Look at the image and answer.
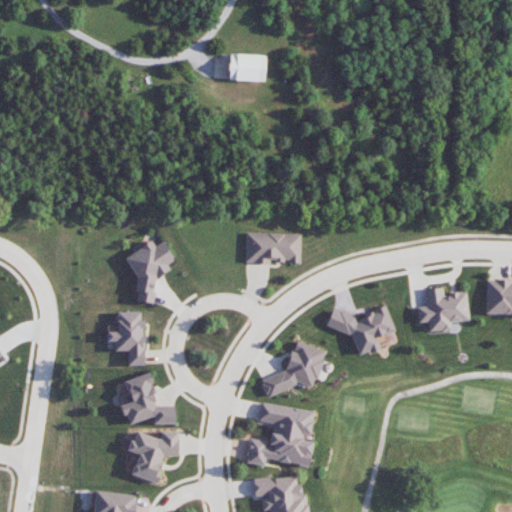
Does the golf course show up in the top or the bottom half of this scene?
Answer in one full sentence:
You can find the golf course in the bottom half.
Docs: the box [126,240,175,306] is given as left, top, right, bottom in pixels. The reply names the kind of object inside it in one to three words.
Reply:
house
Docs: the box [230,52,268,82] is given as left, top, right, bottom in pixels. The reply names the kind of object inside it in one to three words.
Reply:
barn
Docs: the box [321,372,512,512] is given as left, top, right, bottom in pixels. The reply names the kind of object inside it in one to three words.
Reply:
golf course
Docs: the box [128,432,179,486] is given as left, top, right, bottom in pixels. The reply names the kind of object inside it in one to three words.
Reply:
house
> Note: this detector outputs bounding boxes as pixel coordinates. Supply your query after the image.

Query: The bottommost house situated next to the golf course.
[249,476,310,512]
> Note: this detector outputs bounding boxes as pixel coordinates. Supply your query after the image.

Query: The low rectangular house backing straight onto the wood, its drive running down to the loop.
[246,233,302,265]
